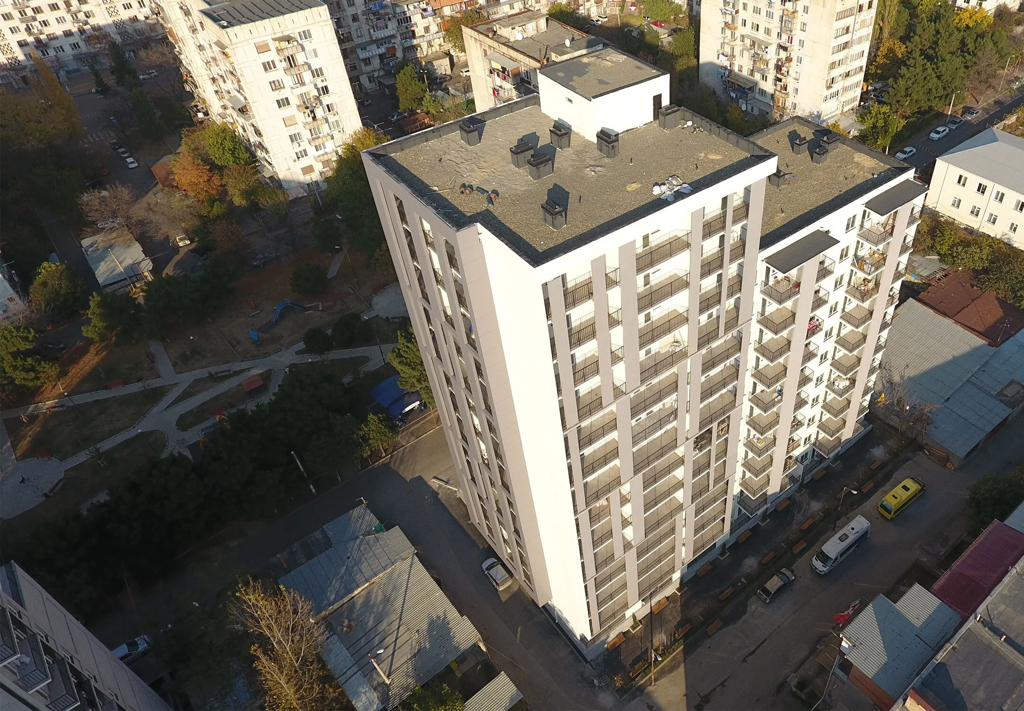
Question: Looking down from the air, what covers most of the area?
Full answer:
For the most part, this view shows buildings.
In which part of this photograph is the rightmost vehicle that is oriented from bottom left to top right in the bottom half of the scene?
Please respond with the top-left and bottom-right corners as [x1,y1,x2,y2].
[872,468,931,527]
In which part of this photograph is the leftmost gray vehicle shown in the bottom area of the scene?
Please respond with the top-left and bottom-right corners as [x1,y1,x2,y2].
[477,556,519,598]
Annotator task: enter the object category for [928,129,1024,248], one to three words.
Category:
building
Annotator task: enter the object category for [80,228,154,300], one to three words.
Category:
shed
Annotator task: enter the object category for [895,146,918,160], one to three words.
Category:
car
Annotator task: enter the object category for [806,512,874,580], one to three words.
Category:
vehicle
